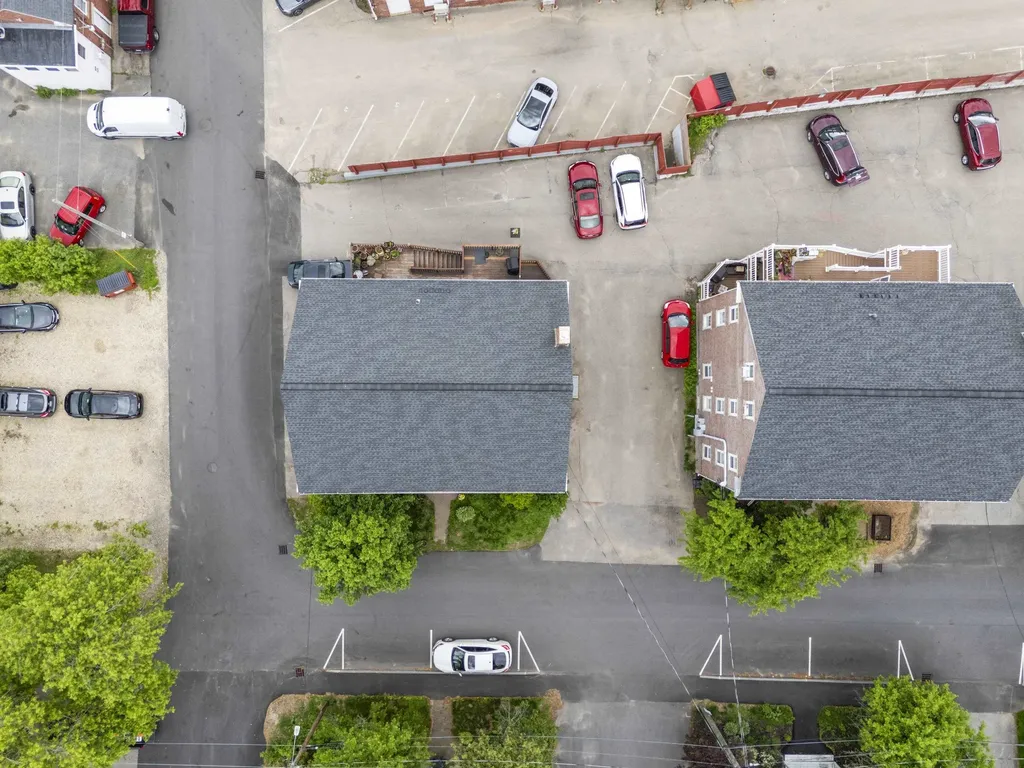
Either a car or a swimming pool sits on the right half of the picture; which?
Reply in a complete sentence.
There is a car on the right half of the picture.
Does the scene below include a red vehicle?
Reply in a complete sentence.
Yes, I can see a red vehicle in this picture.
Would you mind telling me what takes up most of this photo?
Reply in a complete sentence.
Most of the picture is covered by paved ground.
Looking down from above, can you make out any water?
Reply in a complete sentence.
No, there's no water in this view.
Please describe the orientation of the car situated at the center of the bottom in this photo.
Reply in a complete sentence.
What the image shows is the car situated at the center of the bottom lying from left to right.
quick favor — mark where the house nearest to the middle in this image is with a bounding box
[280,280,573,494]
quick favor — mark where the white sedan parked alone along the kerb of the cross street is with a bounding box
[431,637,512,677]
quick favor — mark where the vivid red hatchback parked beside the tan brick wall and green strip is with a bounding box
[659,299,696,370]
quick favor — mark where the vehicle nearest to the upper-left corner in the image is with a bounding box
[118,0,162,54]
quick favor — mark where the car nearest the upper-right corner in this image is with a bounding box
[952,97,1003,173]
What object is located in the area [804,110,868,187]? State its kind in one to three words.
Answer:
car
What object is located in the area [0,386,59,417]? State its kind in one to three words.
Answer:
car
